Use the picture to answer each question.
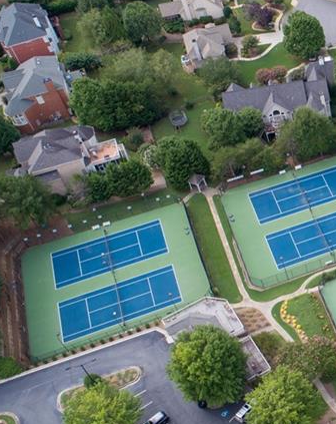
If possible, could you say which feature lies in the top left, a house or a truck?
house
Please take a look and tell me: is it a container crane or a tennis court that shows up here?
tennis court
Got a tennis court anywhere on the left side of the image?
Yes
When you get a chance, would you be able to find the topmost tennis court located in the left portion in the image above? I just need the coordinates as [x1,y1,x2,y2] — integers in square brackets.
[51,219,168,288]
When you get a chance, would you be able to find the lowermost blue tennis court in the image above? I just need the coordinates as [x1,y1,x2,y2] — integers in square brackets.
[58,264,183,342]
